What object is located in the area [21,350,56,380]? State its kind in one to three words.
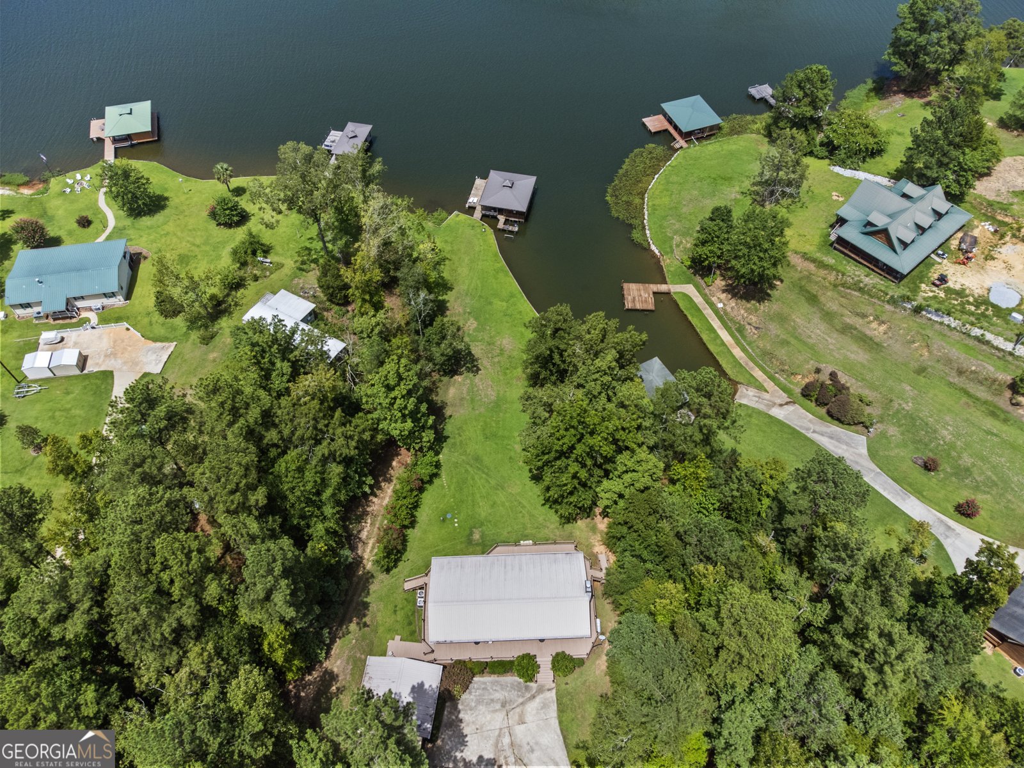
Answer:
shed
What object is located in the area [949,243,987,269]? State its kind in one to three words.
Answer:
work vehicle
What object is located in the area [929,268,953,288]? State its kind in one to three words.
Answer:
vehicle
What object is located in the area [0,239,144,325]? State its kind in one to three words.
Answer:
house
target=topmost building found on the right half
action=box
[641,94,723,151]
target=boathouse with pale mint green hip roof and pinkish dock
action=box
[88,100,159,161]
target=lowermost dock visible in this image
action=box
[622,278,672,314]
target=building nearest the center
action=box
[637,357,671,393]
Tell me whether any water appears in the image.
Yes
